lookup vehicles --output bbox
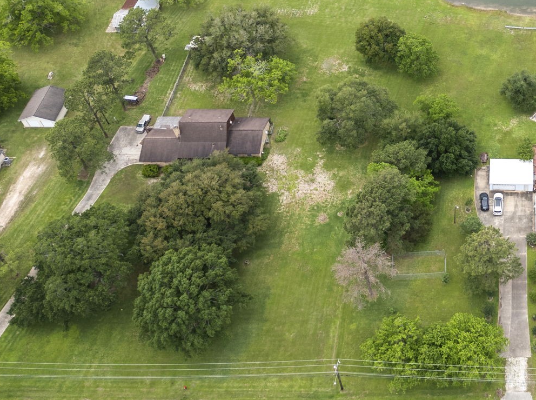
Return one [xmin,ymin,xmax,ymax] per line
[493,194,504,214]
[479,192,490,211]
[131,110,153,135]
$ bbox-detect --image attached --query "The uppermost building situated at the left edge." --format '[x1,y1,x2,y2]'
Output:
[18,82,70,126]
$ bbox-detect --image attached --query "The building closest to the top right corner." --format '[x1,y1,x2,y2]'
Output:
[490,159,533,191]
